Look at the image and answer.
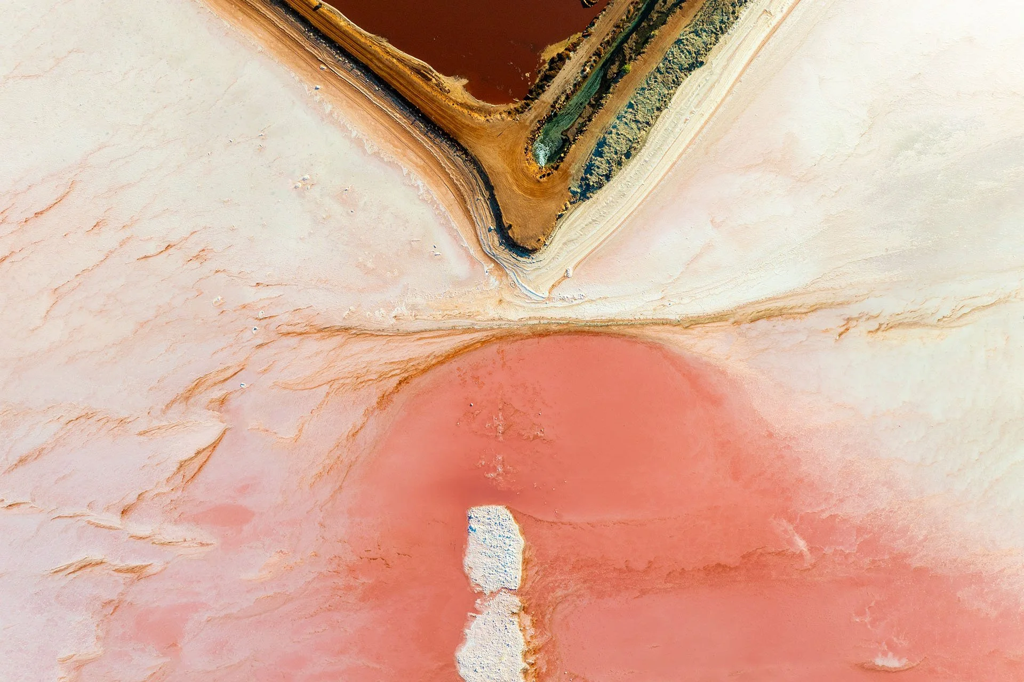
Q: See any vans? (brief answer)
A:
No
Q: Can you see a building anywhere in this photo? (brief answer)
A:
No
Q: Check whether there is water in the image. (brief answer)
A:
Yes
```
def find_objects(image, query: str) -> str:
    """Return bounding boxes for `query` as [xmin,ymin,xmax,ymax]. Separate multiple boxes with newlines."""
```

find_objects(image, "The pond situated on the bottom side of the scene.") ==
[203,335,1024,682]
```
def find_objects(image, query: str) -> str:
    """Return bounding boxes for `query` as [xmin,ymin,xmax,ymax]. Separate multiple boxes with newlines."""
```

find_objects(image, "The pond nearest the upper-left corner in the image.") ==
[323,0,610,104]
